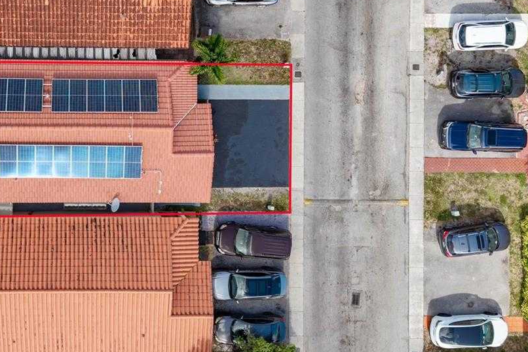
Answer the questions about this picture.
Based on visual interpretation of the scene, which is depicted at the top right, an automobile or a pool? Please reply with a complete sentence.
The feature located at the top right is an automobile.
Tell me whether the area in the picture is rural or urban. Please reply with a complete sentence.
It looks urban.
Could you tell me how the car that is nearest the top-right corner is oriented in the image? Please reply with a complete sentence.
The car that is nearest the top-right corner runs horizontally in the image.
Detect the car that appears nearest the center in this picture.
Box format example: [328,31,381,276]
[213,221,292,259]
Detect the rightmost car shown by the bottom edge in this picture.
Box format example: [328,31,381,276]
[428,312,504,352]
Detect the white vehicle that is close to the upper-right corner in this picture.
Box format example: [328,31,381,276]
[451,16,527,53]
